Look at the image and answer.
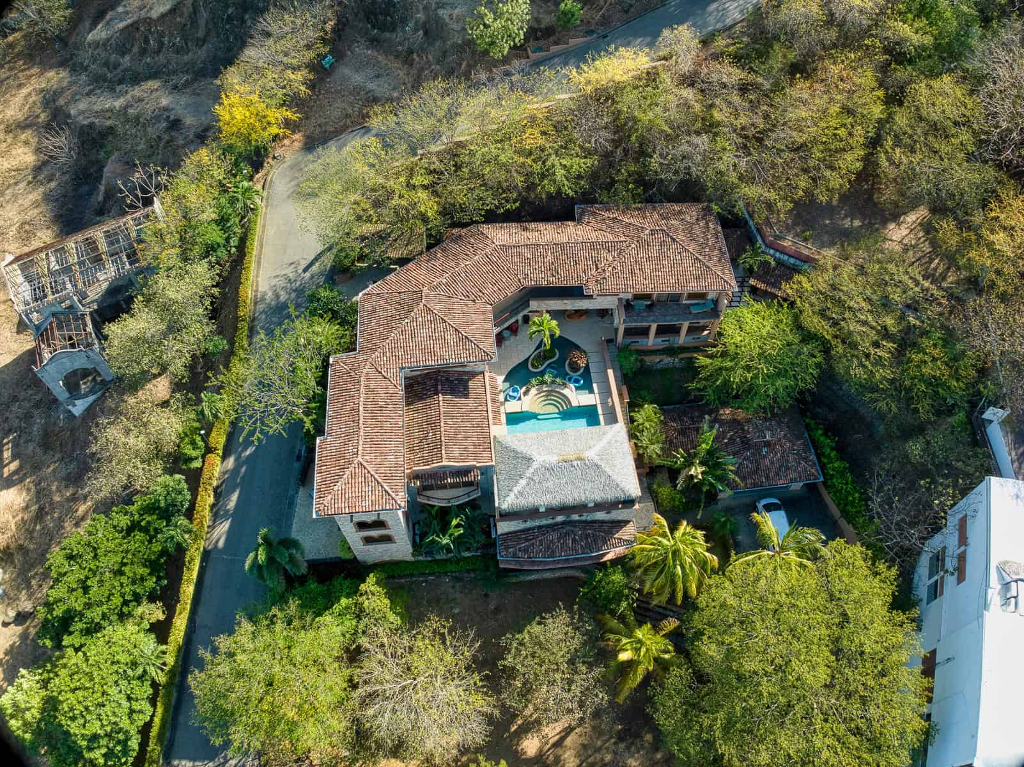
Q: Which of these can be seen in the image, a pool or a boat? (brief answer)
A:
pool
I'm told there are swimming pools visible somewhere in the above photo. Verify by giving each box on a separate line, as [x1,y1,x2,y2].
[504,334,605,436]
